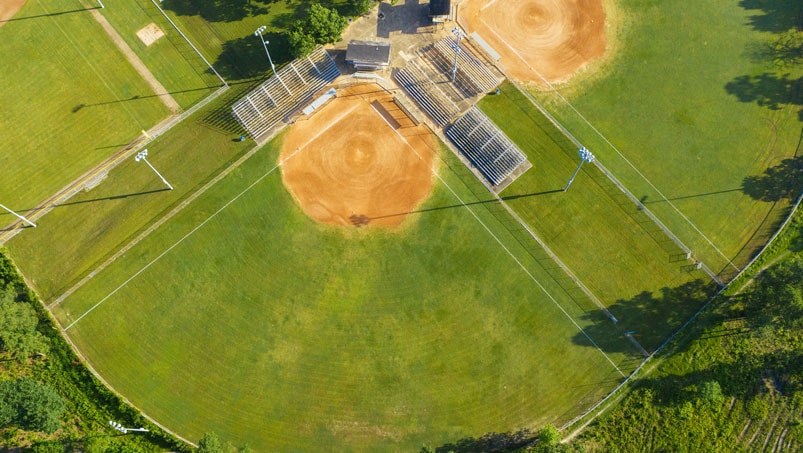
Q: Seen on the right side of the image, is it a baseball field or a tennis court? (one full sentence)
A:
Looking on the right side of the image, you will find a baseball field.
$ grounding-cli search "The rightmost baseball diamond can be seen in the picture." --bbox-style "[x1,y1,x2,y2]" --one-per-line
[462,0,803,284]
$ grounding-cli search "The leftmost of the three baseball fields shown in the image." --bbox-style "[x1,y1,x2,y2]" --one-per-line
[0,0,227,237]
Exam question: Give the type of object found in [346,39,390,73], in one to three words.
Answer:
building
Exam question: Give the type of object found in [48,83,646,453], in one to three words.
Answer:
baseball field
